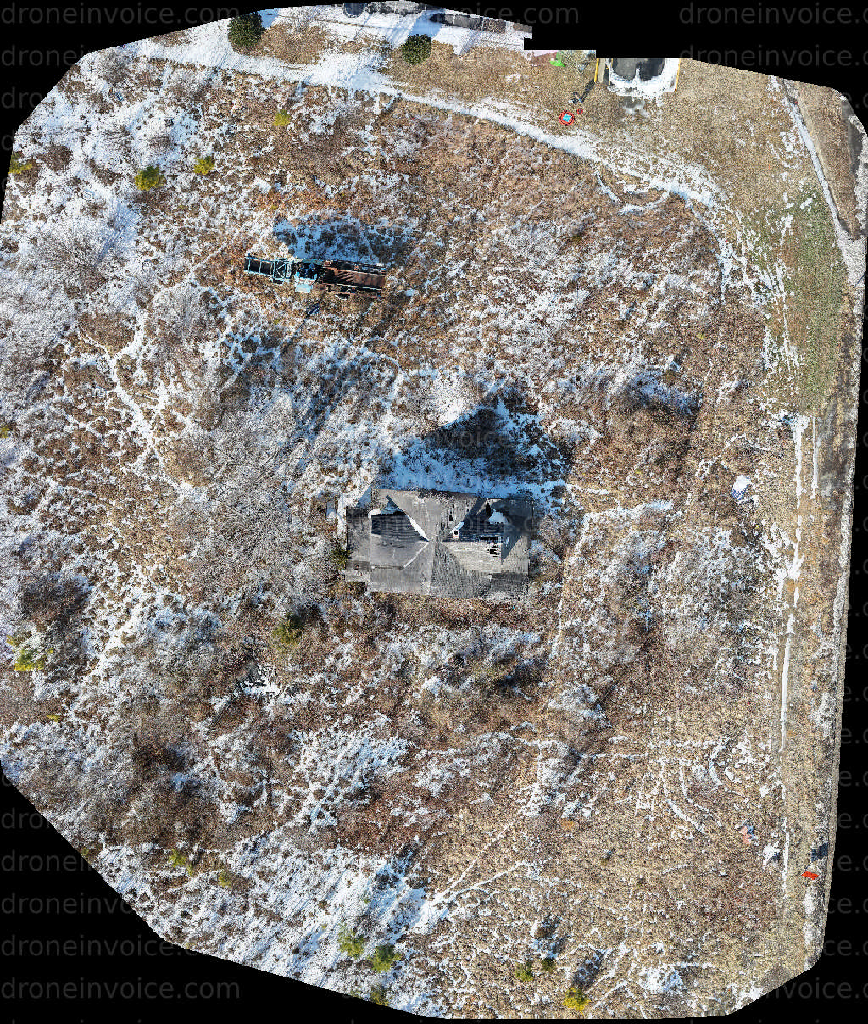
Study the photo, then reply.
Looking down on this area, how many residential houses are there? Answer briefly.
one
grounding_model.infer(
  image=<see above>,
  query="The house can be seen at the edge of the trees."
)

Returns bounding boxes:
[344,488,533,601]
